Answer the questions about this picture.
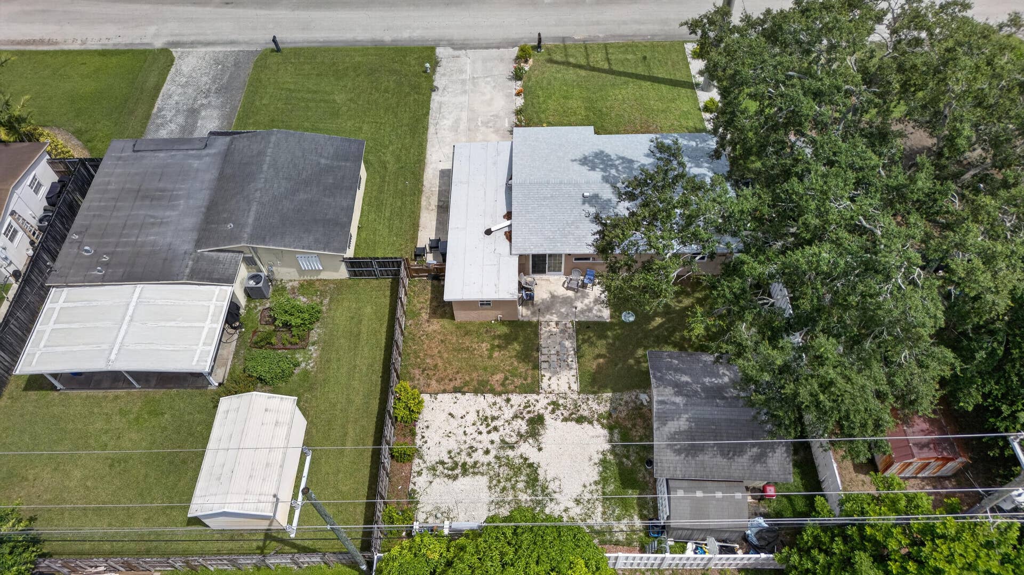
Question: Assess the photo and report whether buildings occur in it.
Yes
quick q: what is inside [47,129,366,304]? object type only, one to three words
house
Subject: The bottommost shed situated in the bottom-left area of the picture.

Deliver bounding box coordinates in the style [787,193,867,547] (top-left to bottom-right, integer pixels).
[186,391,306,528]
